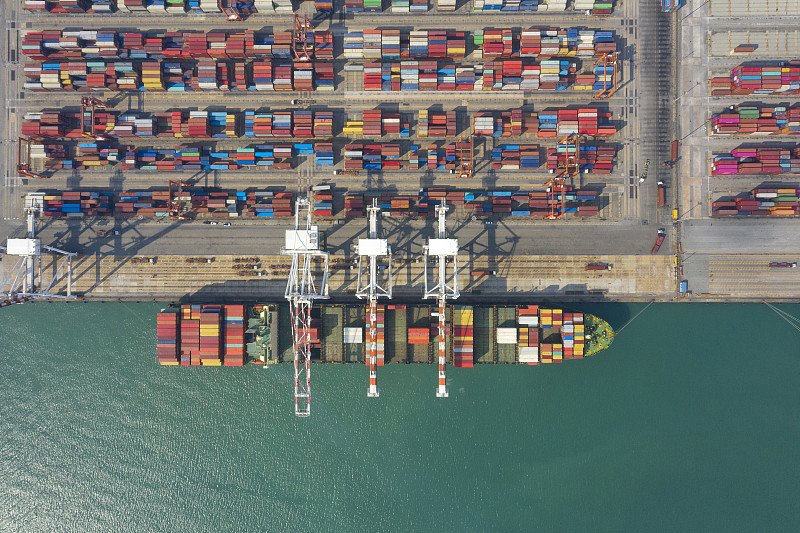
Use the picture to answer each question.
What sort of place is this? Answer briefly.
port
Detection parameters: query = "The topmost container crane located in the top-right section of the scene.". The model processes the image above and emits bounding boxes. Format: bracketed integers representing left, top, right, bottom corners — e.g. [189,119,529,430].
[591,53,617,101]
